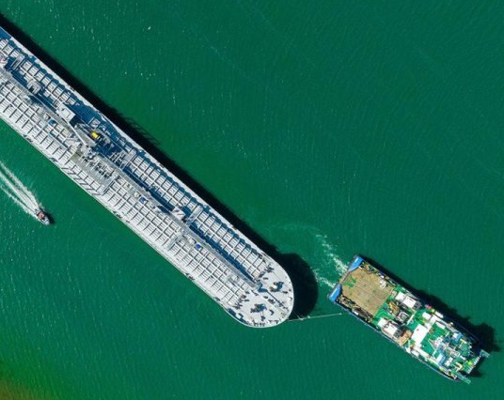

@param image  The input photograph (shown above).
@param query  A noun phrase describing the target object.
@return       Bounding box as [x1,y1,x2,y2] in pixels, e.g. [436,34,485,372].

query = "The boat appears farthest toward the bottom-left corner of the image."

[35,208,50,224]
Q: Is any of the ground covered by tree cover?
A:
No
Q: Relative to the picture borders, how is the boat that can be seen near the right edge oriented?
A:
at an angle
